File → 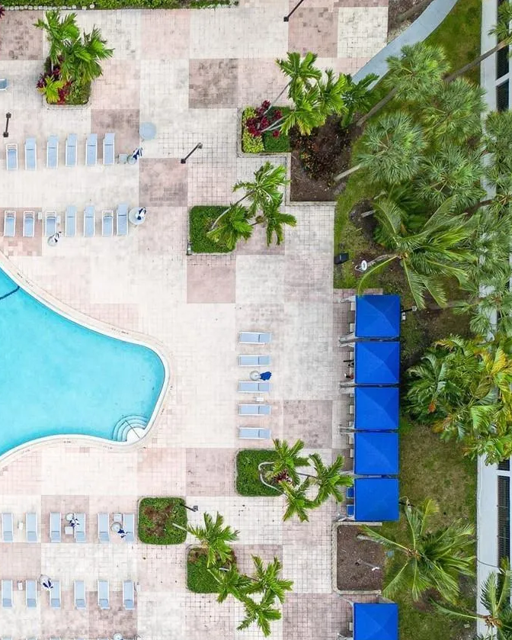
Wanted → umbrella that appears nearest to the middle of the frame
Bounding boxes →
[250,366,273,385]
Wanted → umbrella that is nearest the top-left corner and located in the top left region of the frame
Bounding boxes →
[123,144,139,164]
